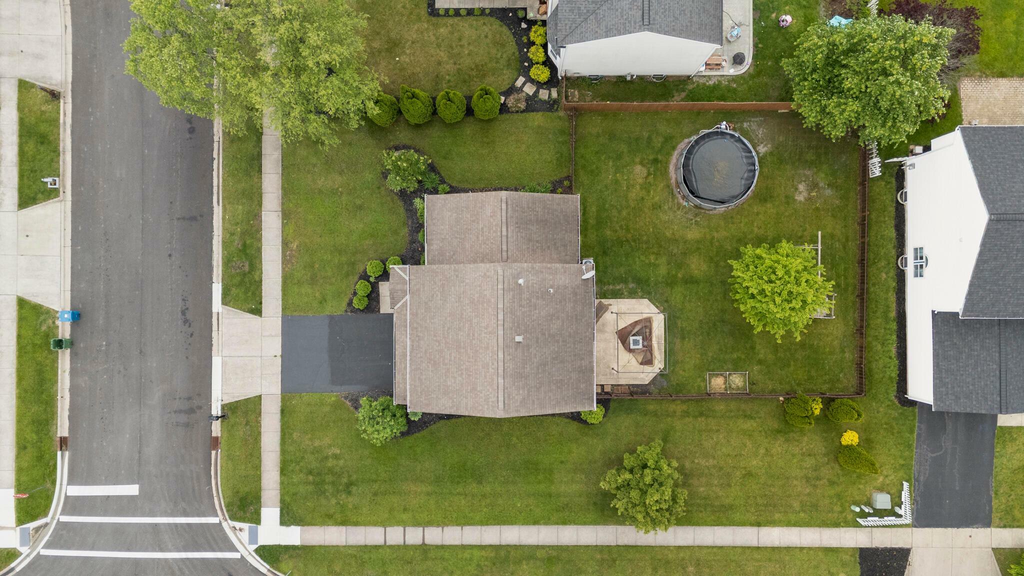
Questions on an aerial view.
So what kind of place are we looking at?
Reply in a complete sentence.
This looks like a residential area.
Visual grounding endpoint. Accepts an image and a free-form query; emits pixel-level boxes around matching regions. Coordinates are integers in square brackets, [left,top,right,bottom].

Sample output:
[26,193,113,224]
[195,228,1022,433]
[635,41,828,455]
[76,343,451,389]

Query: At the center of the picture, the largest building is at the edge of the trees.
[388,189,597,419]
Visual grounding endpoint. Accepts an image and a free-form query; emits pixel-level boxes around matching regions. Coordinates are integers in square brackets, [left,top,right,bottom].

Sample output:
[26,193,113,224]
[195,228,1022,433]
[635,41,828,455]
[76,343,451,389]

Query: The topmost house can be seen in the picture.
[547,0,724,83]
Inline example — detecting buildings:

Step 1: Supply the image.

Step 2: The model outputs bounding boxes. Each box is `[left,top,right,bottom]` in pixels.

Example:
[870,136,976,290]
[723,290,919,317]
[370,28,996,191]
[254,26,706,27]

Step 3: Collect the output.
[547,0,724,83]
[388,189,597,419]
[899,123,1024,414]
